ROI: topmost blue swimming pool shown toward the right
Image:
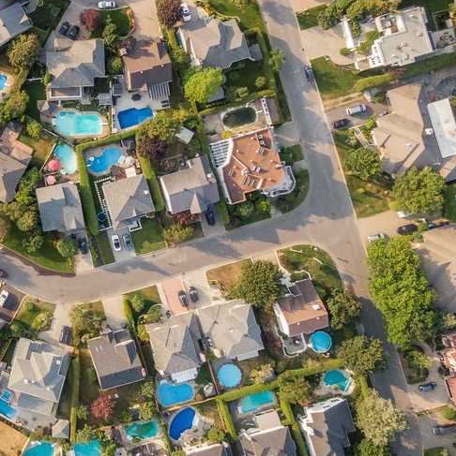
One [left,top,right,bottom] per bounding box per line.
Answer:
[308,331,333,353]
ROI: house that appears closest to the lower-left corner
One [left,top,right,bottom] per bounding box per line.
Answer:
[7,336,74,420]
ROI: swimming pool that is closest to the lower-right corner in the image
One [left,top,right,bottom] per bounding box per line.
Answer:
[321,369,352,397]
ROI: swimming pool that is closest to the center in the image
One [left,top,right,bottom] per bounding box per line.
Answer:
[221,106,261,131]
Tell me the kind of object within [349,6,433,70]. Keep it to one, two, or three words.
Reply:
house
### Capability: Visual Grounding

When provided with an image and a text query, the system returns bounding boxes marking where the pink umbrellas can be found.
[46,174,56,185]
[47,158,60,171]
